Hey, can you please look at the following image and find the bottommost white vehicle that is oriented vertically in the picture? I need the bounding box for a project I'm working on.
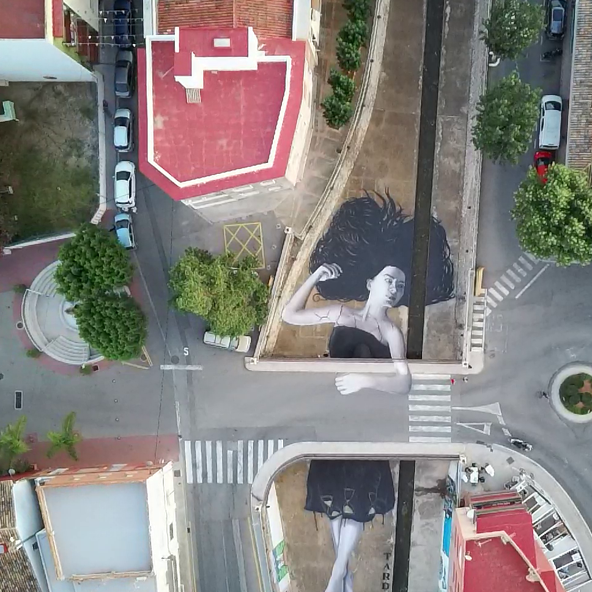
[112,162,137,211]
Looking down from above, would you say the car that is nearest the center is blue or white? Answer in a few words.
white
